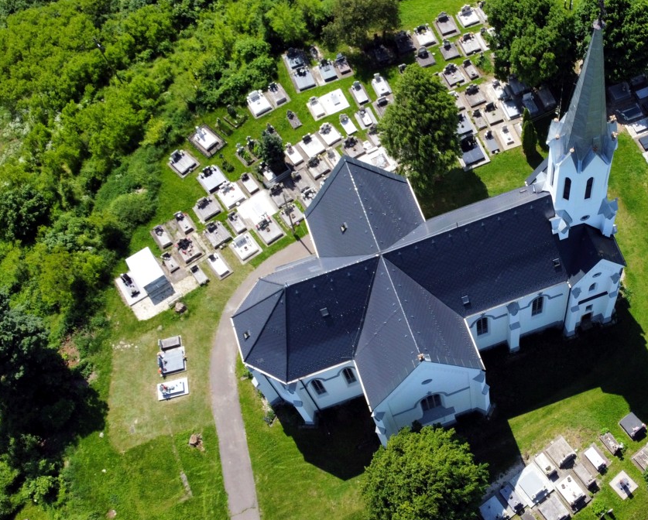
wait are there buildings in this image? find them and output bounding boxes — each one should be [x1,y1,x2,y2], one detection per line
[125,247,172,297]
[231,0,630,456]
